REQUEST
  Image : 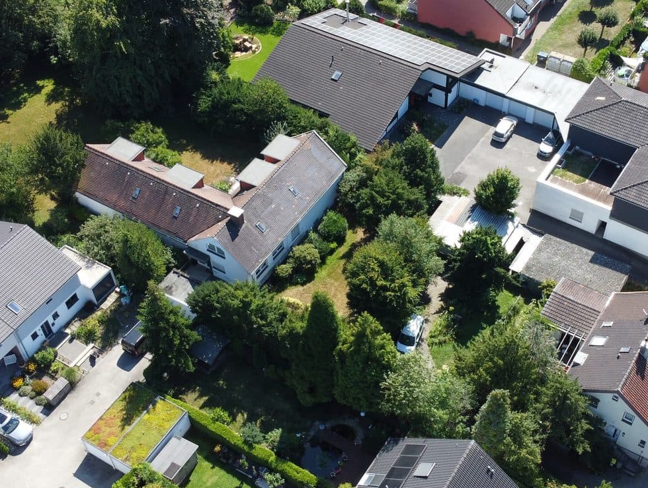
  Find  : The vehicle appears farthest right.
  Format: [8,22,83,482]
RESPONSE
[538,127,563,155]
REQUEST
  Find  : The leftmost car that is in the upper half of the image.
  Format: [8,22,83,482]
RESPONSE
[491,109,520,138]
